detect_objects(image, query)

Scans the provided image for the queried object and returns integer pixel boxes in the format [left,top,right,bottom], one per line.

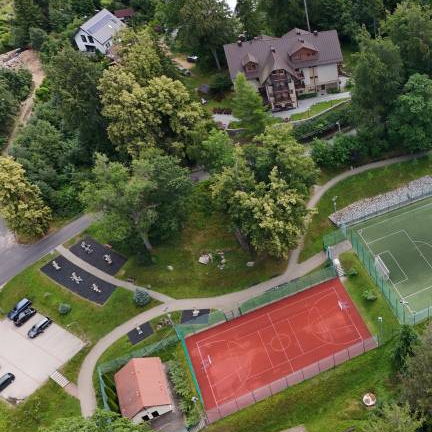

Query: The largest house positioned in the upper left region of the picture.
[70,9,129,60]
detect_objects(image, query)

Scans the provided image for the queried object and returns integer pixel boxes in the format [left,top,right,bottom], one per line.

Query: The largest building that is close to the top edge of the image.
[224,18,343,109]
